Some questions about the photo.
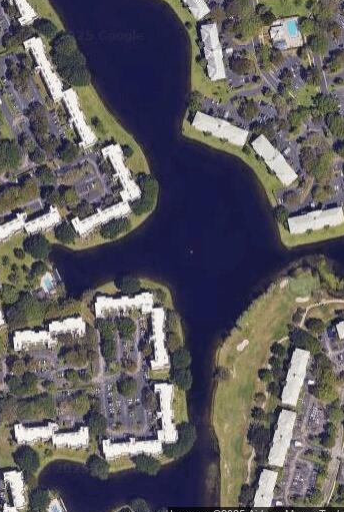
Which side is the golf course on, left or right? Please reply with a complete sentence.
It is on the right.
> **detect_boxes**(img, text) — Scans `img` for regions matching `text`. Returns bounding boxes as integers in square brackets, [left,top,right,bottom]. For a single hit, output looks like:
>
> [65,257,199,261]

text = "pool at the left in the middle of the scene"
[40,272,56,293]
